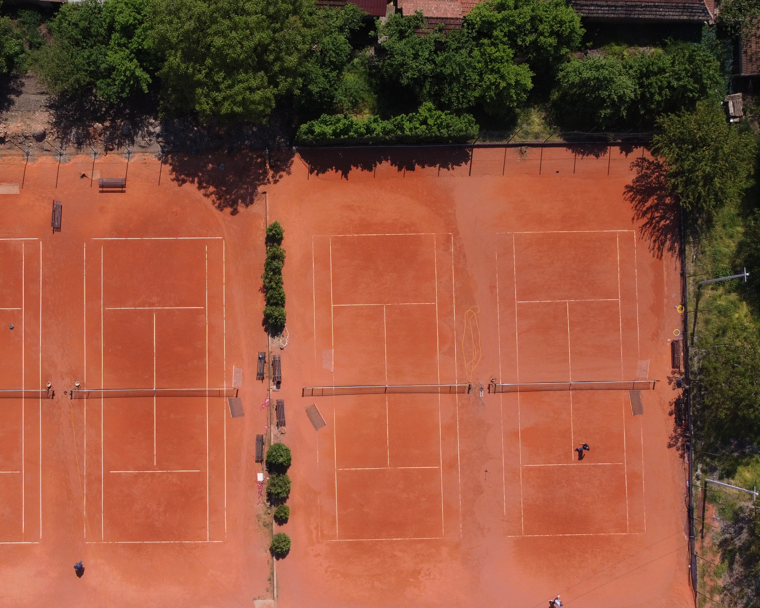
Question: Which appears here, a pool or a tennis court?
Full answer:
I can see a tennis court in this picture.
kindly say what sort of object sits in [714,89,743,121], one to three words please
shed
